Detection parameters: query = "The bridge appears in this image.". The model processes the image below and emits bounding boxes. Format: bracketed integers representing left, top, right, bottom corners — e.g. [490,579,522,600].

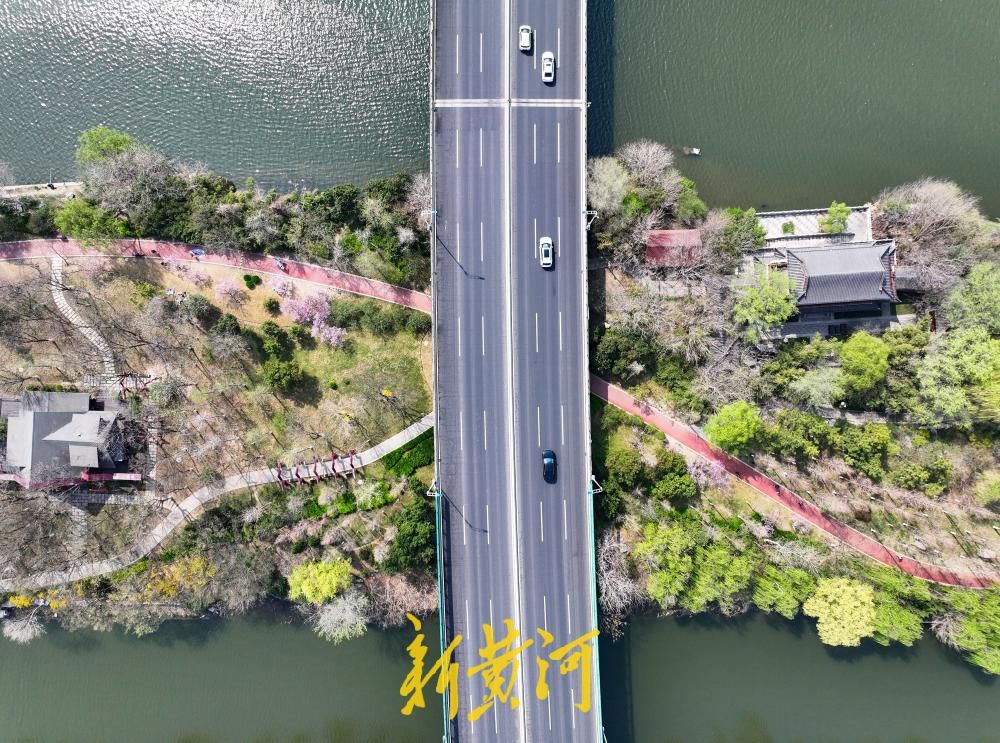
[430,0,606,743]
